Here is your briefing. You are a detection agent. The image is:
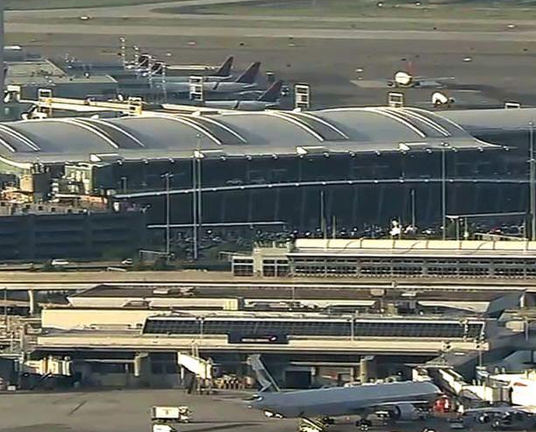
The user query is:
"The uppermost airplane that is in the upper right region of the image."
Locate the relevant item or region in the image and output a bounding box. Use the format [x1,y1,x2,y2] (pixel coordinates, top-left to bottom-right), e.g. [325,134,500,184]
[365,47,448,89]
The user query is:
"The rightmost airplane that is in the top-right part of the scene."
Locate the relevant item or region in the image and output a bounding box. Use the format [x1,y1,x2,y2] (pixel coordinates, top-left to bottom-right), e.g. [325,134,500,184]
[409,75,483,106]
